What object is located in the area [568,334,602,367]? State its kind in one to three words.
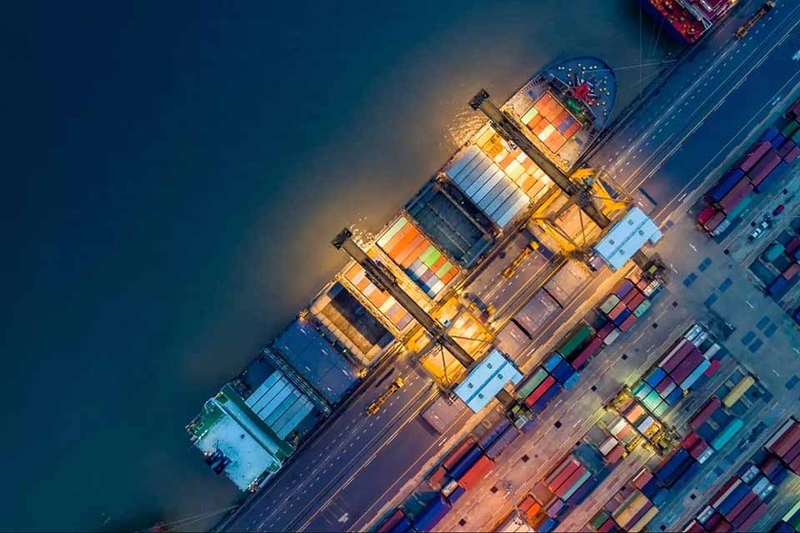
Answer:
shipping container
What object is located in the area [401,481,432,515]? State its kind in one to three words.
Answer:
shipping container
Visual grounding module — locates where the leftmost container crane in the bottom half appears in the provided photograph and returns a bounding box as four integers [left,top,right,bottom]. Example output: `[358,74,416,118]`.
[334,231,538,428]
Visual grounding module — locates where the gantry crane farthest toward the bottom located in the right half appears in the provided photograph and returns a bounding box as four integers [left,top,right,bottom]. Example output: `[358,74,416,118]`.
[592,377,688,463]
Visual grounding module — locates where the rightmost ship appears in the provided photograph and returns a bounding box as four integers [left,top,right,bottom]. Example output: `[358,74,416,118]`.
[631,0,734,45]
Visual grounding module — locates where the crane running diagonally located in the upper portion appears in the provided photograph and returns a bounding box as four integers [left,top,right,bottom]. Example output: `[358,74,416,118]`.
[473,87,677,285]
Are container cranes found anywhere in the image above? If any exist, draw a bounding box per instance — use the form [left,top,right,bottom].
[473,87,677,285]
[334,231,538,428]
[592,377,688,463]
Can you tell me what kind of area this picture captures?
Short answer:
port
